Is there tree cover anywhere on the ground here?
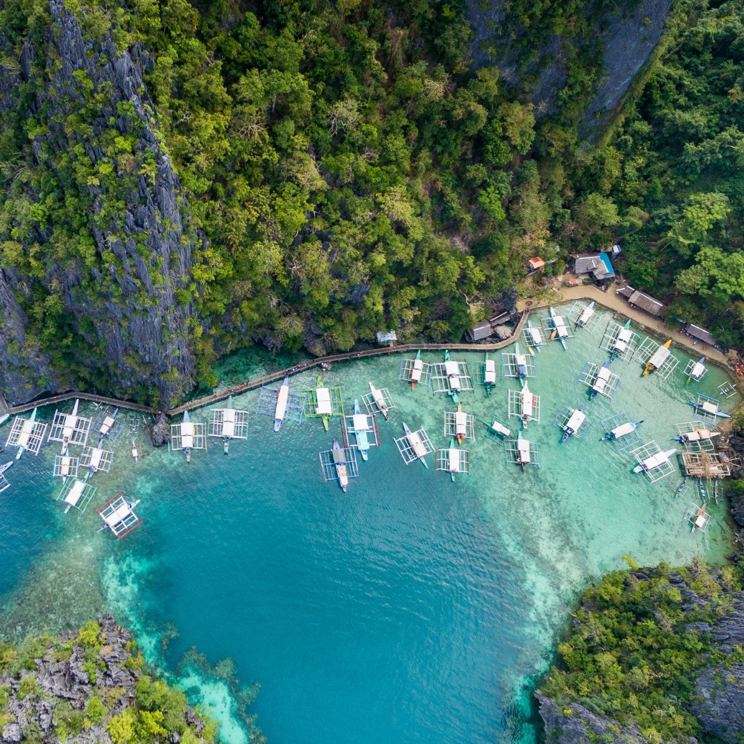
Yes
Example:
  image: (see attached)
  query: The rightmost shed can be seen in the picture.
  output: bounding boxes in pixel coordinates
[683,322,714,347]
